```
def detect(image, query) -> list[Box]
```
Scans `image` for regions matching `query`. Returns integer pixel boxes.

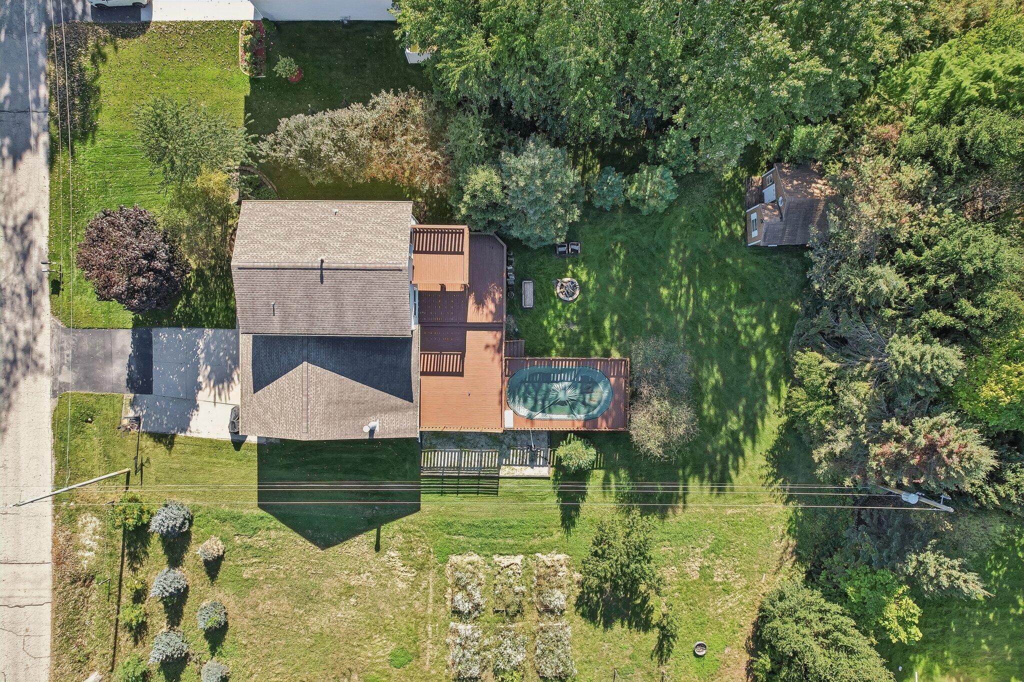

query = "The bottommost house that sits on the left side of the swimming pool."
[231,199,423,442]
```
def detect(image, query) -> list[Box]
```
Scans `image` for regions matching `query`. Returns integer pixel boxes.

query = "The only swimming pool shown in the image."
[506,366,612,421]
